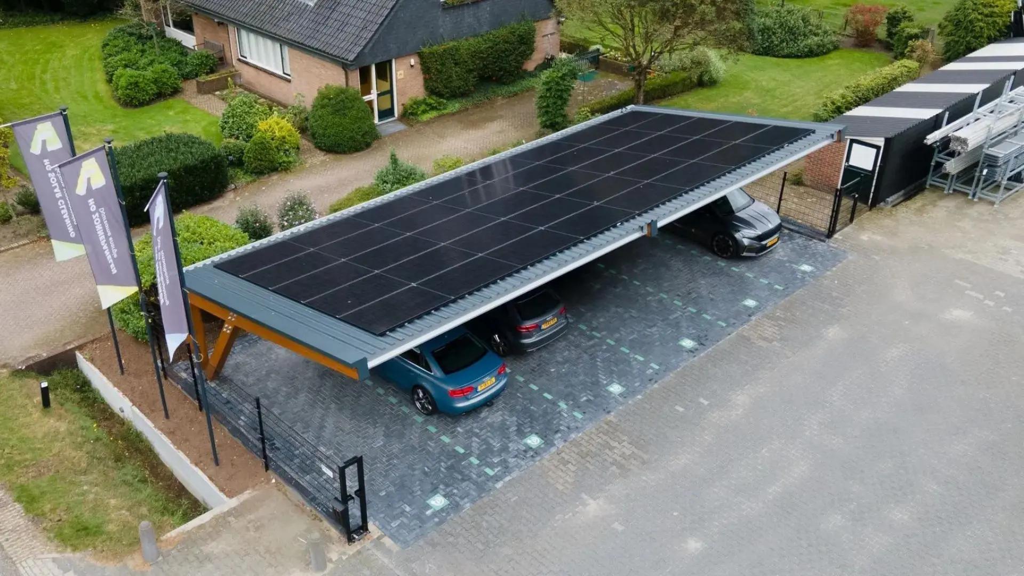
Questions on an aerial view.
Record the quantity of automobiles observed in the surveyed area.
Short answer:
3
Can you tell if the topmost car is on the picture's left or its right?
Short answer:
right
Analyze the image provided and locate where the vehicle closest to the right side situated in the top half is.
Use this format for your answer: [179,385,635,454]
[668,188,787,261]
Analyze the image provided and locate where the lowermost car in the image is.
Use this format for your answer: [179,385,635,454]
[380,327,515,421]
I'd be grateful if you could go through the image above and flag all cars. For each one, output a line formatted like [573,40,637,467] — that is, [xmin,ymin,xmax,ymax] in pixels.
[668,188,787,261]
[380,327,515,421]
[466,285,574,357]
